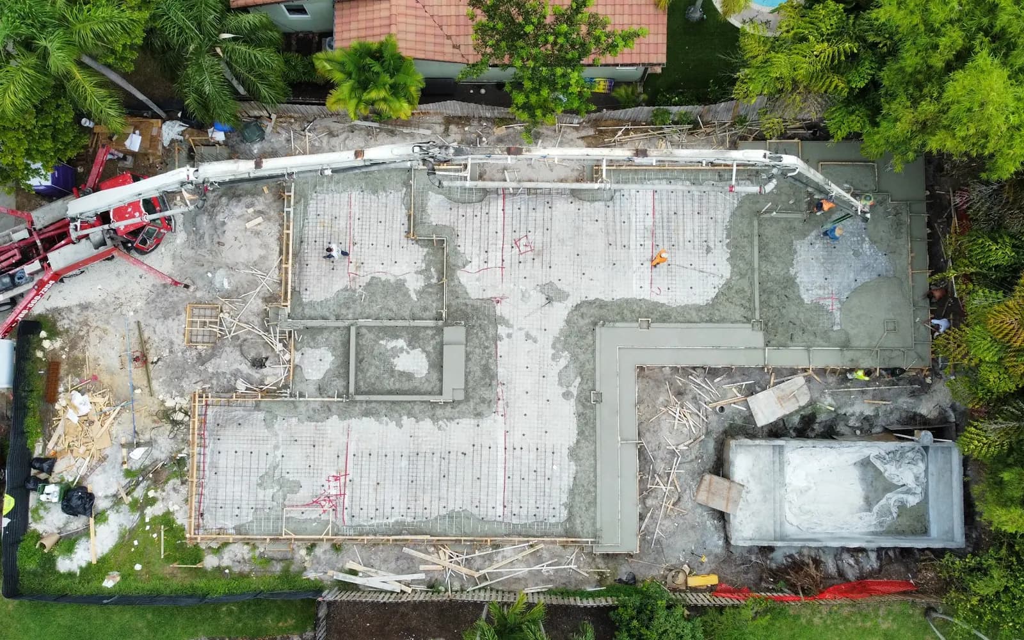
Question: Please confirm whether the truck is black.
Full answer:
No, the truck is white.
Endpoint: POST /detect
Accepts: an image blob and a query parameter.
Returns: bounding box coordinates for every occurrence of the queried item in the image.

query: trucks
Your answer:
[0,140,871,338]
